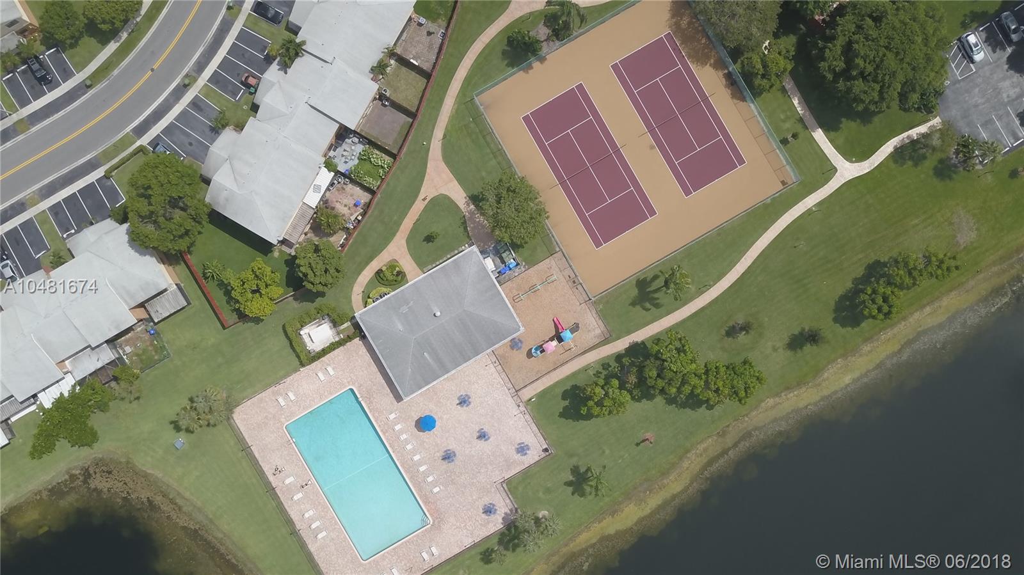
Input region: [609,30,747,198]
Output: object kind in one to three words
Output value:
tennis court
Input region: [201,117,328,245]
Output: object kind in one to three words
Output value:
house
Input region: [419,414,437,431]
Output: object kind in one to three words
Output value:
umbrella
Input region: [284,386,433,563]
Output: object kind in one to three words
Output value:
swimming pool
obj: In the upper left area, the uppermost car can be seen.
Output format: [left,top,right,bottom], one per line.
[250,0,283,24]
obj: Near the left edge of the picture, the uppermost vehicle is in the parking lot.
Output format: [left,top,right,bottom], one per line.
[25,55,53,86]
